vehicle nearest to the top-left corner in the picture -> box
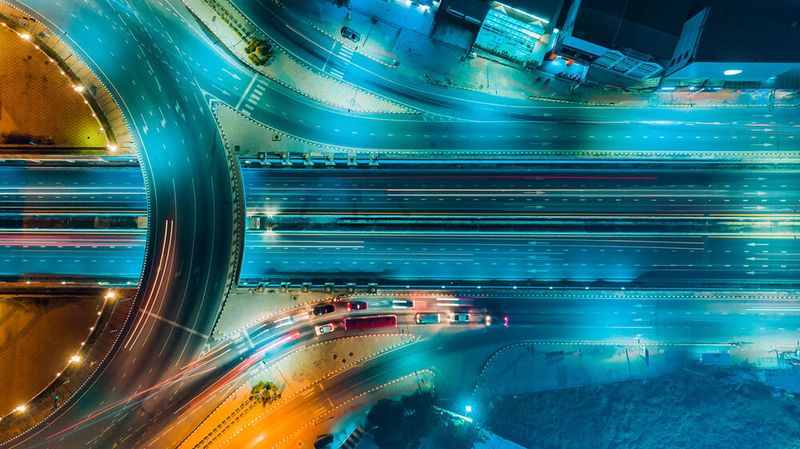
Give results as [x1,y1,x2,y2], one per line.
[339,27,360,41]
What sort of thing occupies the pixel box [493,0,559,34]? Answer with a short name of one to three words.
building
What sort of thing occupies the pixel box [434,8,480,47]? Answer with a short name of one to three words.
building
